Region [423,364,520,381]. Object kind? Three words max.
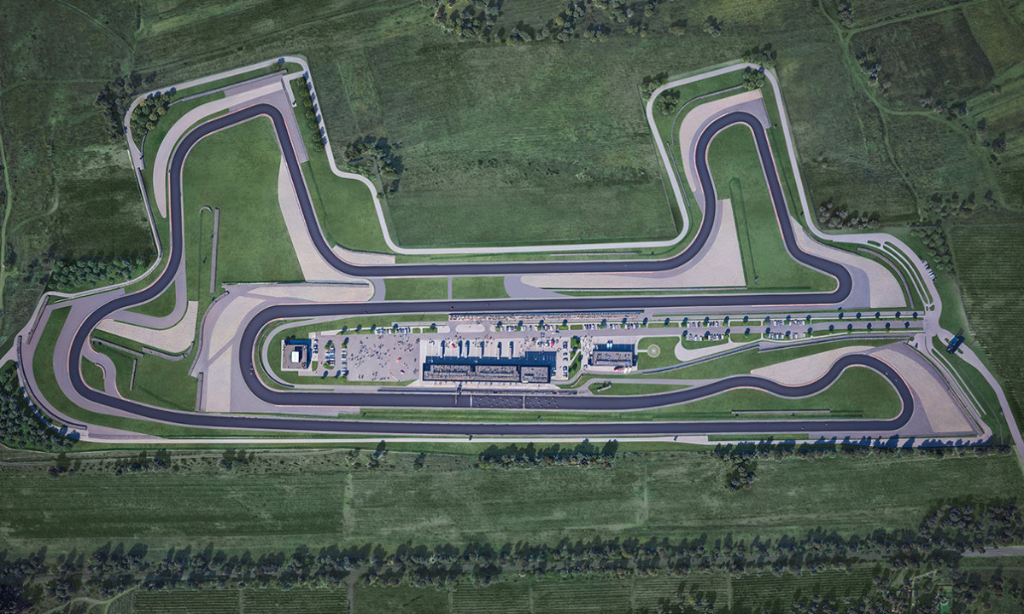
building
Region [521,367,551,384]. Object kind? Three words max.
building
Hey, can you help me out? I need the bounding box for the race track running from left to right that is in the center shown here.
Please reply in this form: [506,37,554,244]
[68,103,914,435]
